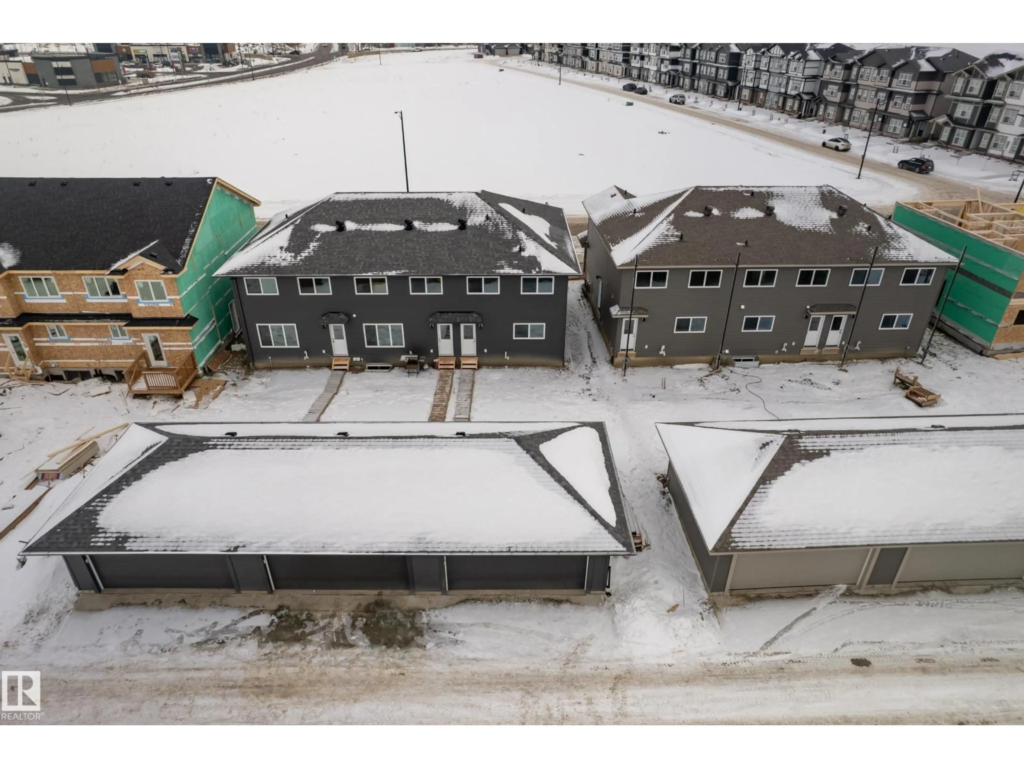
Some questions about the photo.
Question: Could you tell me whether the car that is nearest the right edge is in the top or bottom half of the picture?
top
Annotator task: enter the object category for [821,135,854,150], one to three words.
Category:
car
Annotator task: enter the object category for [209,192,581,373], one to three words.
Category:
house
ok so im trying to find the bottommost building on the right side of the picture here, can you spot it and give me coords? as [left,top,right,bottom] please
[654,412,1024,604]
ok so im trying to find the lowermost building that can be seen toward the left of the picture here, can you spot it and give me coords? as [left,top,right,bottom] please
[16,420,636,611]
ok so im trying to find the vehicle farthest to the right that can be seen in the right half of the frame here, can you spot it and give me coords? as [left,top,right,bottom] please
[896,153,938,173]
